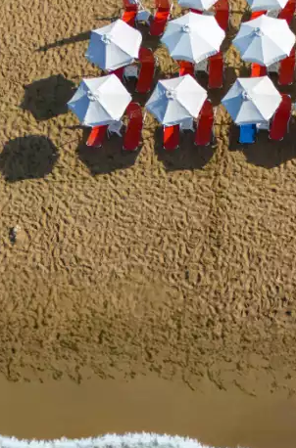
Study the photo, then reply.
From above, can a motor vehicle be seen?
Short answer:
No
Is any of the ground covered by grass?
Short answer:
No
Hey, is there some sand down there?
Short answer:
Yes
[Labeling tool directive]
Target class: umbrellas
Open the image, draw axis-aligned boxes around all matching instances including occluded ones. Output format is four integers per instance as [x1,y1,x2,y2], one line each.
[247,0,290,11]
[68,79,133,130]
[81,24,146,72]
[178,0,220,10]
[222,79,282,130]
[146,77,210,133]
[161,10,227,66]
[232,15,296,70]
